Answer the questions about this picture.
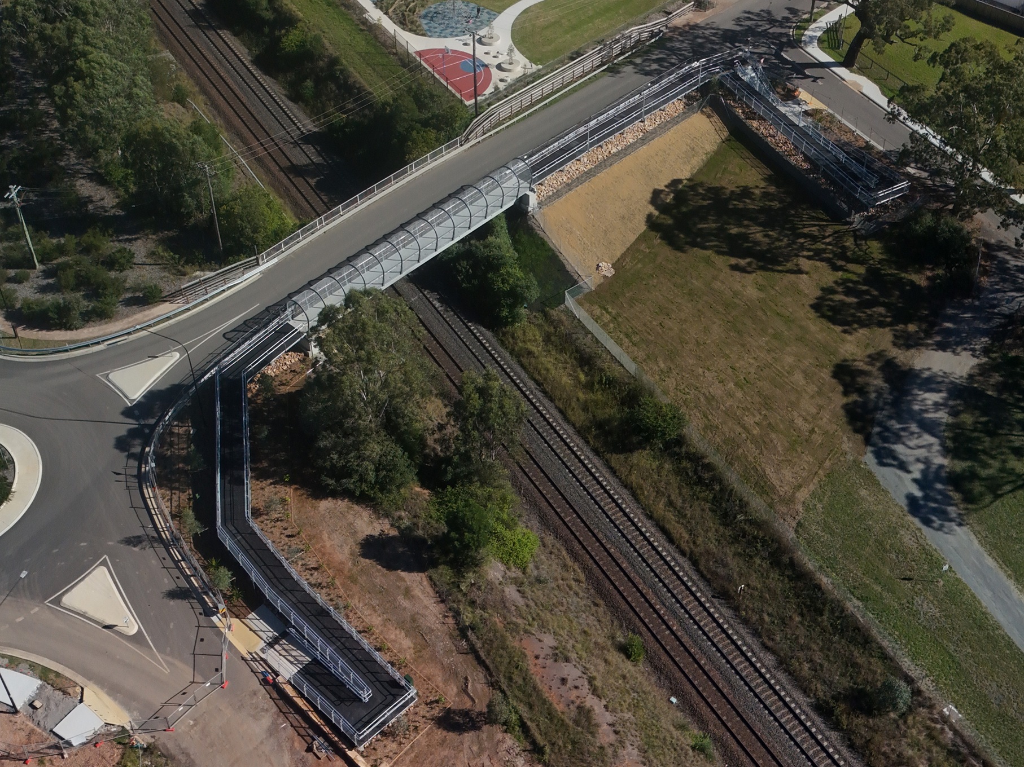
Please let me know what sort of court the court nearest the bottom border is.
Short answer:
basketball court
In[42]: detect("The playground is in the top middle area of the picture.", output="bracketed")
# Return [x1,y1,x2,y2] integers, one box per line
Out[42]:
[420,0,500,38]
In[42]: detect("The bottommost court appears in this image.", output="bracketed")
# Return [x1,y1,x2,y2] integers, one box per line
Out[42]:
[414,48,492,101]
